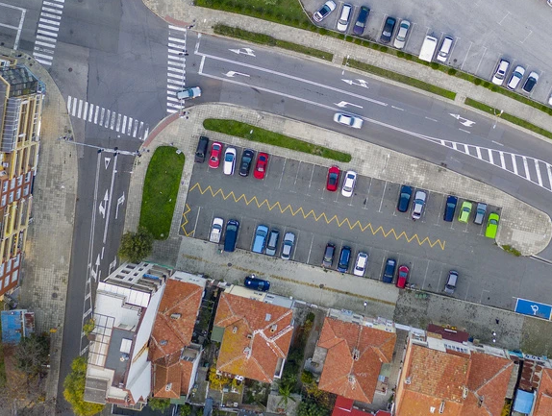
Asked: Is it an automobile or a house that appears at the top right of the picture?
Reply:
automobile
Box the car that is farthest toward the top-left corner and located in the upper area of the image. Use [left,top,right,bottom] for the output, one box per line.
[175,85,204,100]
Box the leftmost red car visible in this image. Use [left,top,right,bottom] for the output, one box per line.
[207,140,223,168]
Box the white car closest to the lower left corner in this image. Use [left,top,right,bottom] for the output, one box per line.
[210,216,224,242]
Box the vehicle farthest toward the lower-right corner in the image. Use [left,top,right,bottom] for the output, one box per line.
[445,269,457,293]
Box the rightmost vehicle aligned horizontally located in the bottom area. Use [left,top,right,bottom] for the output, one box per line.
[242,275,271,291]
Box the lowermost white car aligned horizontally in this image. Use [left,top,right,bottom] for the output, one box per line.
[333,113,363,127]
